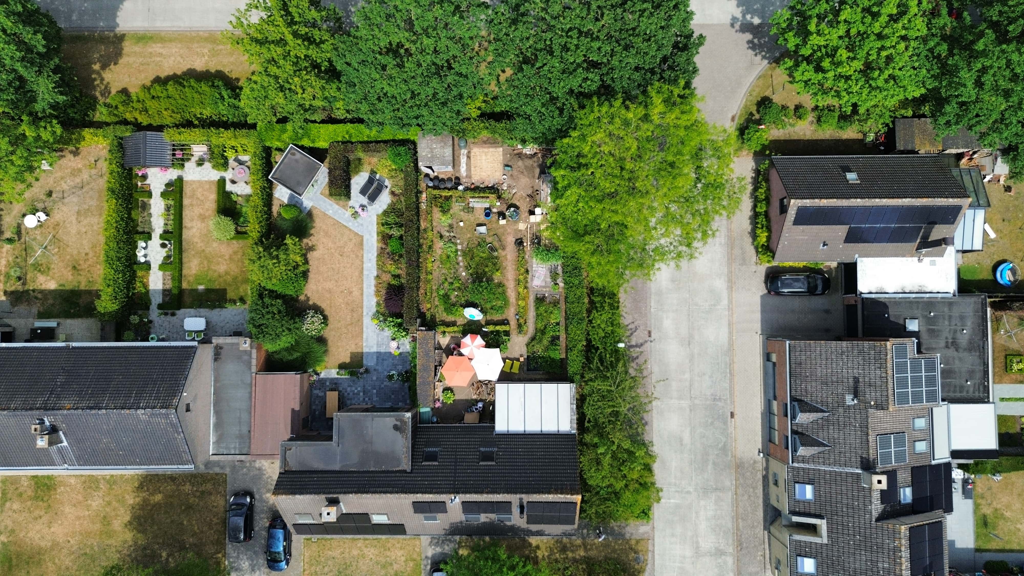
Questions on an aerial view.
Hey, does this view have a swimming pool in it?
Yes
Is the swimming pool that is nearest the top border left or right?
right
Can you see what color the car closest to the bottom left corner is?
black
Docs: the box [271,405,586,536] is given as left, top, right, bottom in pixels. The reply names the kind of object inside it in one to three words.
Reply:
house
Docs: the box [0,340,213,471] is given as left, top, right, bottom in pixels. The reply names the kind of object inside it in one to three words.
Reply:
house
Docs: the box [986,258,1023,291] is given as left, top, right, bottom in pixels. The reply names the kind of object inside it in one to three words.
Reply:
swimming pool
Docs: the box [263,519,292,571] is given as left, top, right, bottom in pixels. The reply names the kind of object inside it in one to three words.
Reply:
car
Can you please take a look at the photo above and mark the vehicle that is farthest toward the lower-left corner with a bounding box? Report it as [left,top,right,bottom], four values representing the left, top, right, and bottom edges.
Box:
[225,492,255,543]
